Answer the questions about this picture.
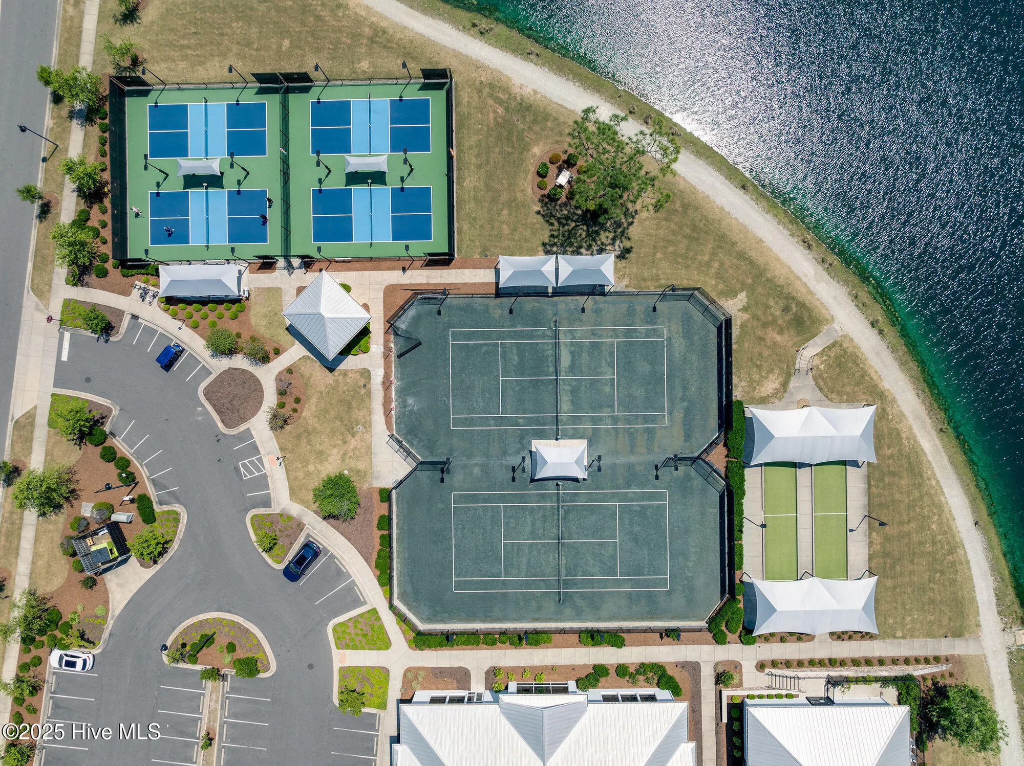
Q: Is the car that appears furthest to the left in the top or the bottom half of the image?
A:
bottom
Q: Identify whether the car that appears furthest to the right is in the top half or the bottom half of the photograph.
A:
bottom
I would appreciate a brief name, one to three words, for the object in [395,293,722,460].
tennis court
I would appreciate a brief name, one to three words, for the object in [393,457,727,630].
tennis court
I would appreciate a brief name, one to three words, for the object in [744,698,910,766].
building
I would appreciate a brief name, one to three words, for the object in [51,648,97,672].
car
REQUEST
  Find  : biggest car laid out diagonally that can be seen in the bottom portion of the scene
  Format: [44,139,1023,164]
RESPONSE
[284,540,321,584]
